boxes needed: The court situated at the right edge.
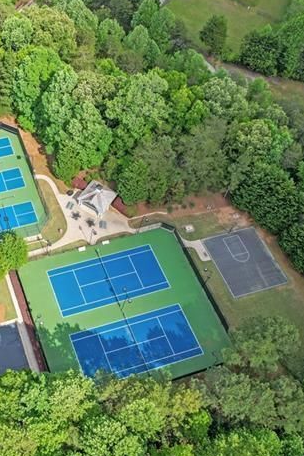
[203,227,292,299]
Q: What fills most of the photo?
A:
trees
